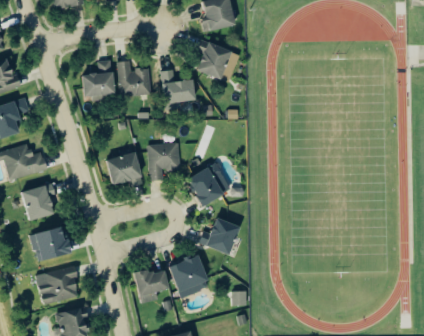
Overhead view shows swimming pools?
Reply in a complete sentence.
Yes, a swimming pool is visible in the scene.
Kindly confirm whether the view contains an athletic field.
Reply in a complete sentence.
Yes, you can see an athletic field in this photo.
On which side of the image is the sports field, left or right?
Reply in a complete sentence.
You can find the sports field on the right side of the picture.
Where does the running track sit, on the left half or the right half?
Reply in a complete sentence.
The running track is on the right side of the image.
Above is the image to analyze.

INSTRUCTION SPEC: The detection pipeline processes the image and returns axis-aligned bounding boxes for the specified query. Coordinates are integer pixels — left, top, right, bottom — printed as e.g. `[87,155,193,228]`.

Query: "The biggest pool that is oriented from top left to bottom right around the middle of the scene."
[217,156,241,184]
